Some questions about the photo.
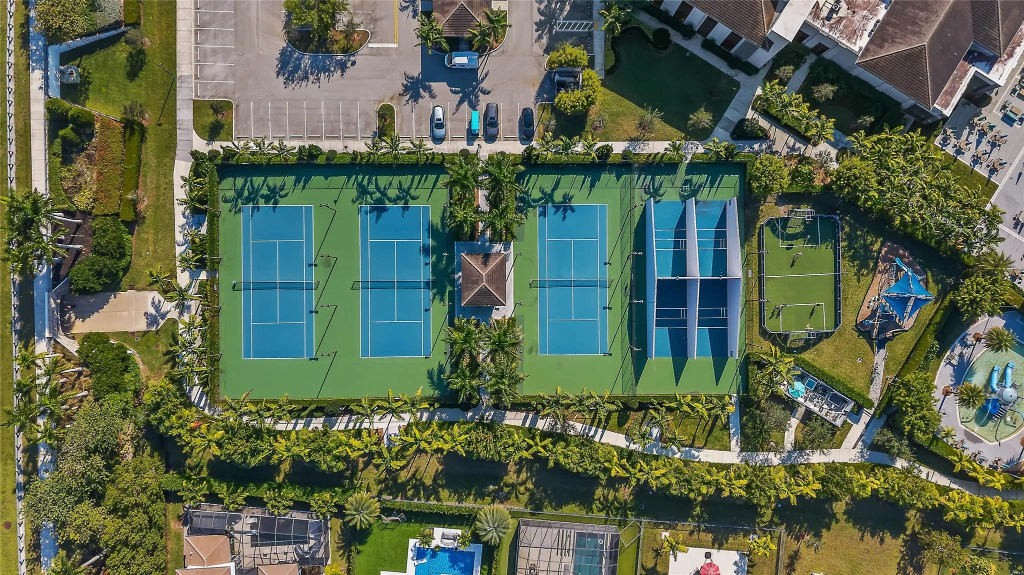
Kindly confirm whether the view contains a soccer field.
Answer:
Yes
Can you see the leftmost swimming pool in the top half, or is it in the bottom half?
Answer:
bottom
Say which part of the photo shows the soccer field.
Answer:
right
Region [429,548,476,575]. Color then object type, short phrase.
blue swimming pool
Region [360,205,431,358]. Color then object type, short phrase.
blue tennis court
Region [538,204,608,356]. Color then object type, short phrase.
blue tennis court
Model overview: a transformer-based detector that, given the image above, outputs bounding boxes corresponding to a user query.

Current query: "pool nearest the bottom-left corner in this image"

[249,517,312,549]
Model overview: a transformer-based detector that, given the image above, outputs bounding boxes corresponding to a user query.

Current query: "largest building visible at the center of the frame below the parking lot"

[460,253,507,307]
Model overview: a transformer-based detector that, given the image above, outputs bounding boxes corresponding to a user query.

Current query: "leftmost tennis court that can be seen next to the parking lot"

[242,205,315,359]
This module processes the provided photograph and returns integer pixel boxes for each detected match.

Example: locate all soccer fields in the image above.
[767,218,839,332]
